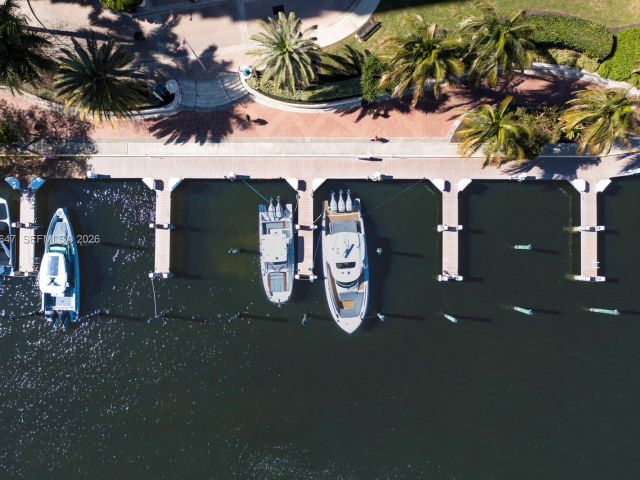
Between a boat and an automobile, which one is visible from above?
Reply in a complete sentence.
This aerial view contains a boat.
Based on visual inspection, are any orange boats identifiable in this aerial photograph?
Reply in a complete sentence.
No, there appears to be no orange boat in this shot.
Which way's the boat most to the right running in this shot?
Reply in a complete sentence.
From this overhead view, the boat most to the right appears to run up and down.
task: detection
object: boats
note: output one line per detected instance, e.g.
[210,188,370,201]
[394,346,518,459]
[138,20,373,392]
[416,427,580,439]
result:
[322,189,368,336]
[0,199,19,285]
[39,208,84,332]
[258,196,294,308]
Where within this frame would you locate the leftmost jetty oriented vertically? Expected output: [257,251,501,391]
[8,179,47,274]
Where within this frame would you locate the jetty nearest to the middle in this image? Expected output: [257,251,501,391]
[285,179,326,281]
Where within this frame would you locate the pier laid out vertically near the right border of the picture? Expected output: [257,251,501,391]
[566,180,610,282]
